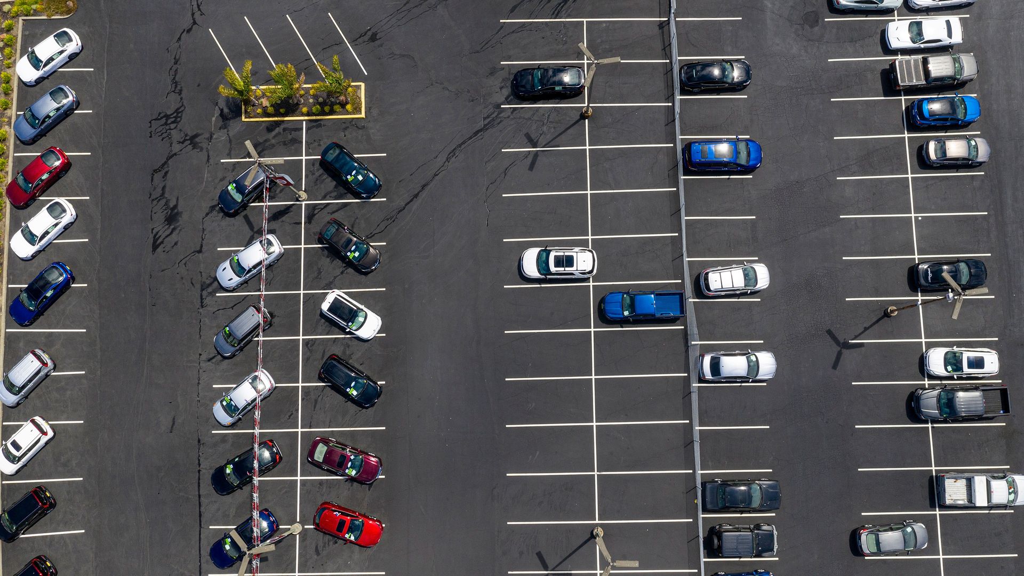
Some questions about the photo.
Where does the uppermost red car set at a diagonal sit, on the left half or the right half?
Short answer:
left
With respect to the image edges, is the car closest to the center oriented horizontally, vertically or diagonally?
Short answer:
horizontally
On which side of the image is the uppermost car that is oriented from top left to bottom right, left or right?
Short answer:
left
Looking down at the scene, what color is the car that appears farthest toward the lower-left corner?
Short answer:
black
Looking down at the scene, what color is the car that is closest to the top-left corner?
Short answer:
white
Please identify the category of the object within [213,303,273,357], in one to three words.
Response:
car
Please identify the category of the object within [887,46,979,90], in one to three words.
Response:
truck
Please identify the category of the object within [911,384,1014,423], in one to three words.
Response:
truck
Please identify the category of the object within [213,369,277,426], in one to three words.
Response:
car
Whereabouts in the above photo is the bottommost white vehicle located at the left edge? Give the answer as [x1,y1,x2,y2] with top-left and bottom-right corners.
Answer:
[0,419,56,474]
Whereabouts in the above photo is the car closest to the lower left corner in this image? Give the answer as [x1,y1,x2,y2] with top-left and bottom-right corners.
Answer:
[13,556,57,576]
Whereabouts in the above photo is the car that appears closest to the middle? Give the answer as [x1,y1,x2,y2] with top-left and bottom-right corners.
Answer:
[521,245,597,281]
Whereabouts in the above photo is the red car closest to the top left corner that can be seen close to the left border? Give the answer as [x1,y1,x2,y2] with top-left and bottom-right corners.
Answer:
[6,149,71,208]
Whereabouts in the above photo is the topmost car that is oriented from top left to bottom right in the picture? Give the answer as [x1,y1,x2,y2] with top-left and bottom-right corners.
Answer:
[320,141,381,199]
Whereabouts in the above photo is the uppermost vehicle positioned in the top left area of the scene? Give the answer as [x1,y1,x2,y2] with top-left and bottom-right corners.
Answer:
[17,30,81,88]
